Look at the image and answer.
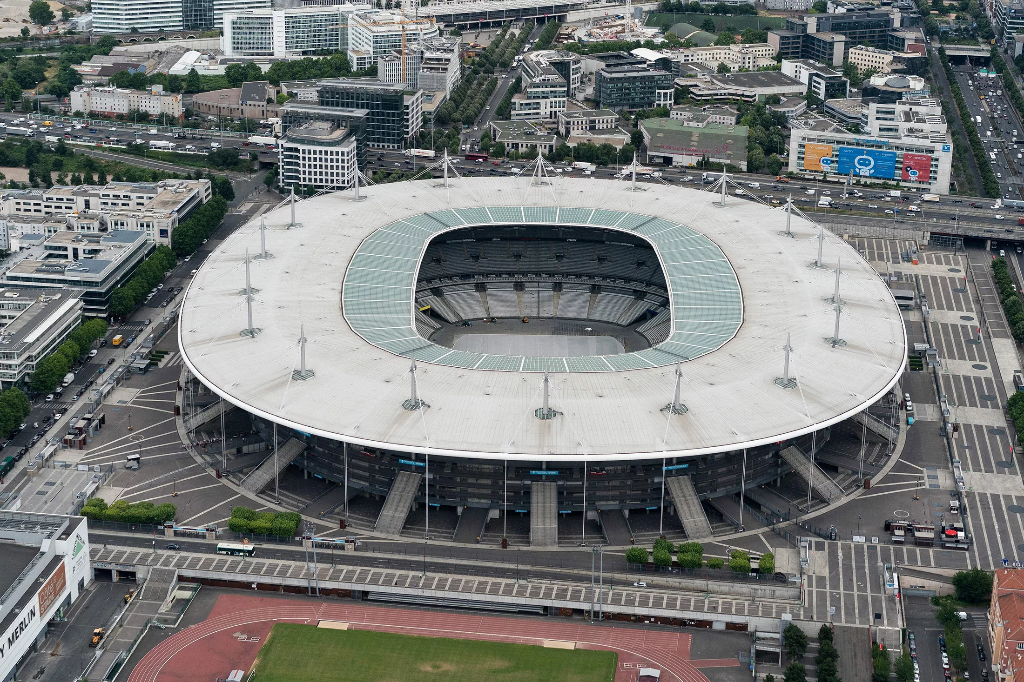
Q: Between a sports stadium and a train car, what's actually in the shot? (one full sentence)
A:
It is a sports stadium that can be seen here.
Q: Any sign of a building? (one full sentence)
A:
Yes, there's a building down there.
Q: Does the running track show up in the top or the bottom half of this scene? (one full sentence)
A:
Seen from above, the running track lies in the bottom half of the view.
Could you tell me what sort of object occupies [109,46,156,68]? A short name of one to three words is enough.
shed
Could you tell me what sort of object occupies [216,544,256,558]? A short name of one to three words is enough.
vehicle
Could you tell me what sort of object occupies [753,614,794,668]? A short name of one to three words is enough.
building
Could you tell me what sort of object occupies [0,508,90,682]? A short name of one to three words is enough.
building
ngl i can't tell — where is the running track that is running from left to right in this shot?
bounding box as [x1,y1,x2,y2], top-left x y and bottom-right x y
[132,606,701,682]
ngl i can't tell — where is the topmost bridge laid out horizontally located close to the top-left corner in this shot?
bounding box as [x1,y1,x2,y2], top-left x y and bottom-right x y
[90,28,200,43]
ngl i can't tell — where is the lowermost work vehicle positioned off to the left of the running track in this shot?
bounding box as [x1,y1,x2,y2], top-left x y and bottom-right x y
[83,625,107,649]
